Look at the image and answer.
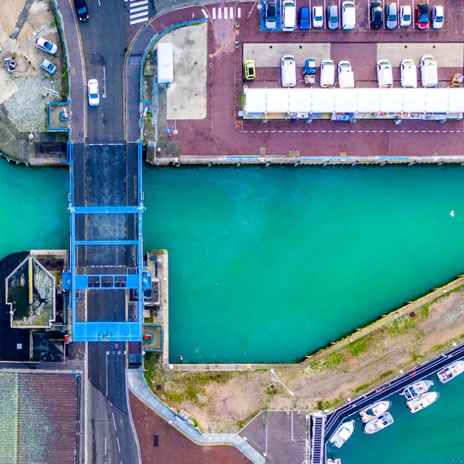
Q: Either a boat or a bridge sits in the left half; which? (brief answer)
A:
bridge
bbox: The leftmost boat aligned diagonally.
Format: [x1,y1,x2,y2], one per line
[329,421,355,447]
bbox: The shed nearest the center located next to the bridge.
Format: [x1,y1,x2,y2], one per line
[145,278,160,305]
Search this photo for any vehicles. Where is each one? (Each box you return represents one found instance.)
[311,5,324,28]
[416,2,430,30]
[243,59,256,81]
[385,2,399,30]
[265,2,277,30]
[320,59,336,87]
[282,0,297,32]
[326,4,340,30]
[281,54,297,87]
[298,5,311,31]
[431,4,445,30]
[451,74,464,84]
[87,79,100,108]
[370,0,384,29]
[37,58,59,76]
[304,58,316,82]
[398,4,412,27]
[338,60,356,87]
[341,1,356,31]
[377,59,396,87]
[420,54,438,87]
[400,59,418,87]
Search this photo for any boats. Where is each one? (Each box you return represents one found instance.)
[326,455,341,464]
[329,421,355,447]
[364,410,395,432]
[357,401,393,422]
[401,381,434,400]
[435,362,464,383]
[403,391,439,413]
